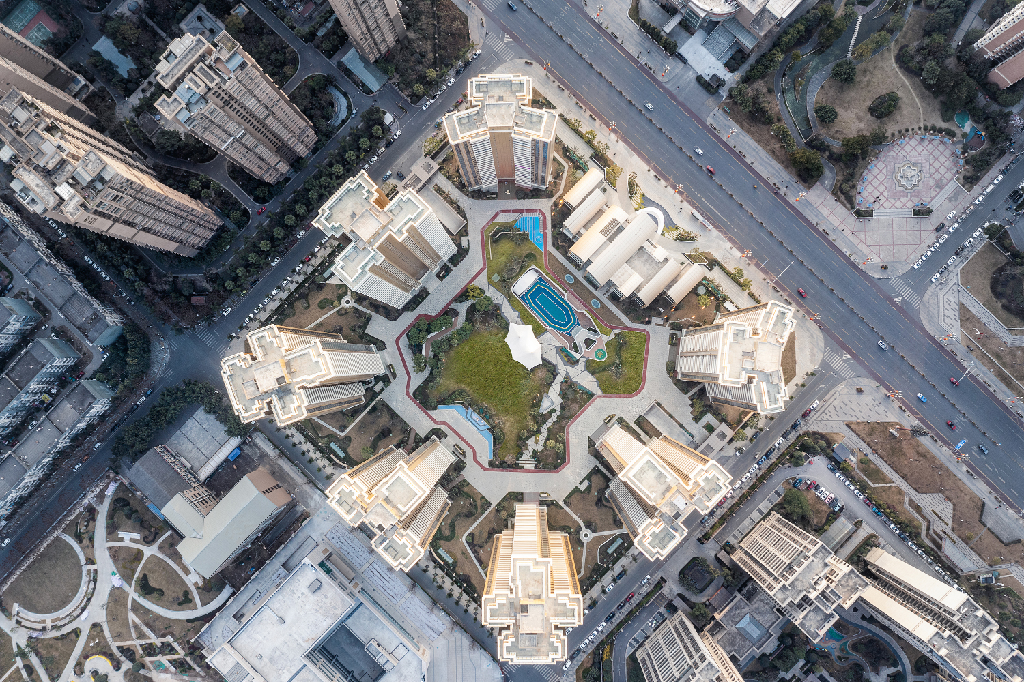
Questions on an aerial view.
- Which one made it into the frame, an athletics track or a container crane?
athletics track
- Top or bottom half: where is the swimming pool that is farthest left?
top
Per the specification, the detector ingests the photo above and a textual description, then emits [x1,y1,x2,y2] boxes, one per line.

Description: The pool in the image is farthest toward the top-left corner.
[92,35,129,73]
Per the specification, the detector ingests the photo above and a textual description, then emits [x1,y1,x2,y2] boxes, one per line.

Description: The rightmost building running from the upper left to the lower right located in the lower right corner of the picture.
[860,548,1024,682]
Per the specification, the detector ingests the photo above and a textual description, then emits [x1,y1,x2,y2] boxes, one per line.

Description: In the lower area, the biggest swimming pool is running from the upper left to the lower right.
[438,404,493,460]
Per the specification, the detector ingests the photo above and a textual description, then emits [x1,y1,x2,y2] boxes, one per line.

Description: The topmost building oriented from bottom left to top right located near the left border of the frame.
[0,339,75,434]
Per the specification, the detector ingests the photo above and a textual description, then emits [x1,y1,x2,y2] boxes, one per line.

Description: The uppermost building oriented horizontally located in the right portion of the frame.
[662,0,798,61]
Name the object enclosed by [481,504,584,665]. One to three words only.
building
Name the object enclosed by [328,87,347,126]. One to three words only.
swimming pool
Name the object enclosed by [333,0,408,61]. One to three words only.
building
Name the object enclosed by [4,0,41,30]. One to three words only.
tennis court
